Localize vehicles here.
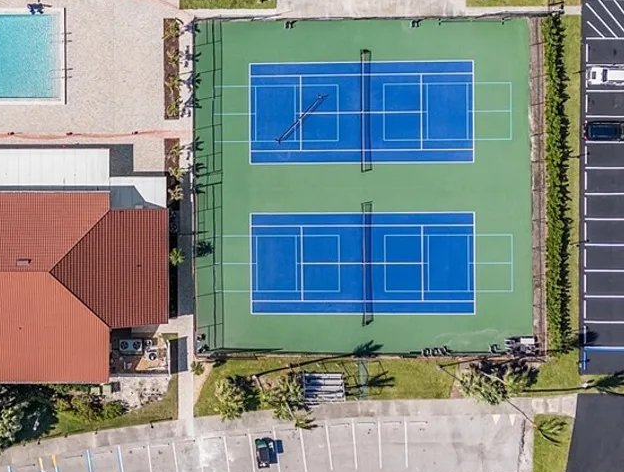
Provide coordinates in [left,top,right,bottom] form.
[582,121,624,141]
[584,64,624,86]
[257,438,273,467]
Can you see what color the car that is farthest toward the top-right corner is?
white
